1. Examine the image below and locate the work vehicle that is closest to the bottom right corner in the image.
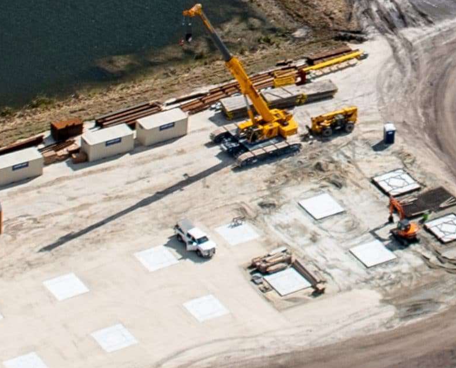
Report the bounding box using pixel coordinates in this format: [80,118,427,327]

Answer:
[389,198,421,243]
